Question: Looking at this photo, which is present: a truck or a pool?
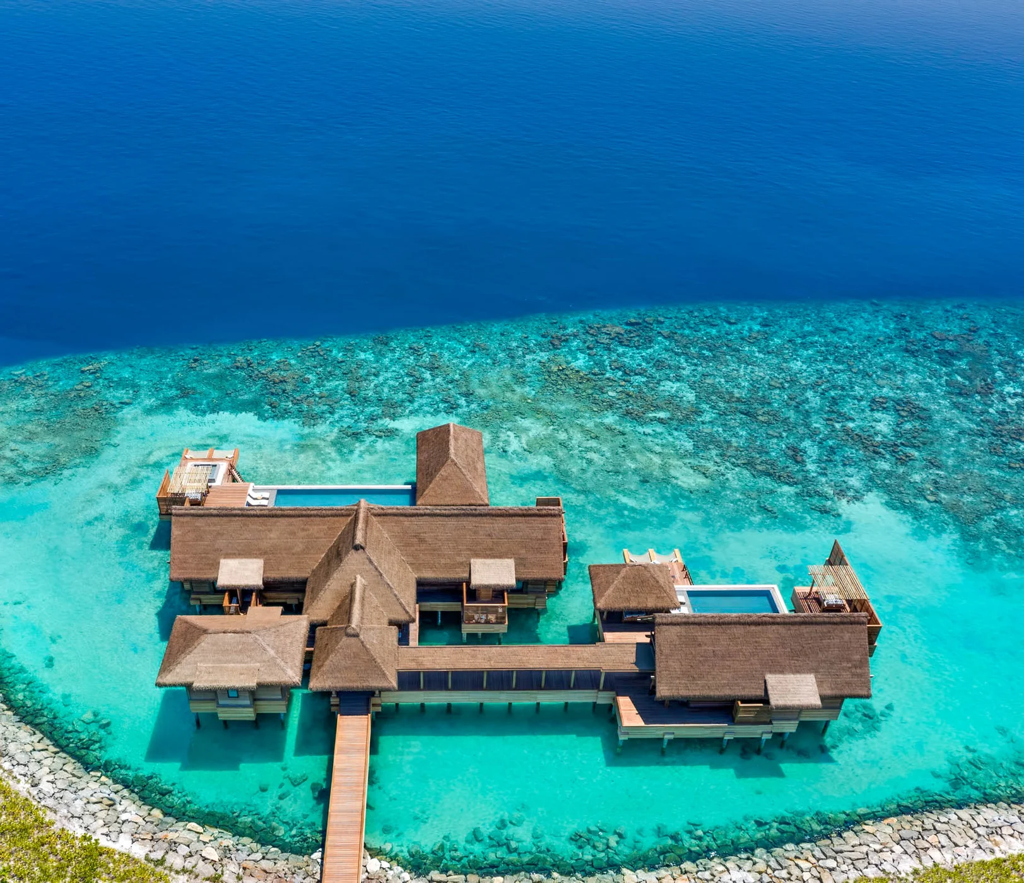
pool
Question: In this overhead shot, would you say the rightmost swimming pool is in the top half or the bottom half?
bottom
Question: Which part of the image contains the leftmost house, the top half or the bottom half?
bottom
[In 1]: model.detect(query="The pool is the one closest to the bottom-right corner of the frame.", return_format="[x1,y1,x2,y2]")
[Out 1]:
[674,586,793,613]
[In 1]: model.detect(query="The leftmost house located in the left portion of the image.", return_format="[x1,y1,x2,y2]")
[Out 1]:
[155,609,321,748]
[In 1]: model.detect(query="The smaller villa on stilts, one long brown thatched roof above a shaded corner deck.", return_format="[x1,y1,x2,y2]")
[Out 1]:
[606,610,876,764]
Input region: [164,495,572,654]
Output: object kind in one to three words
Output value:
house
